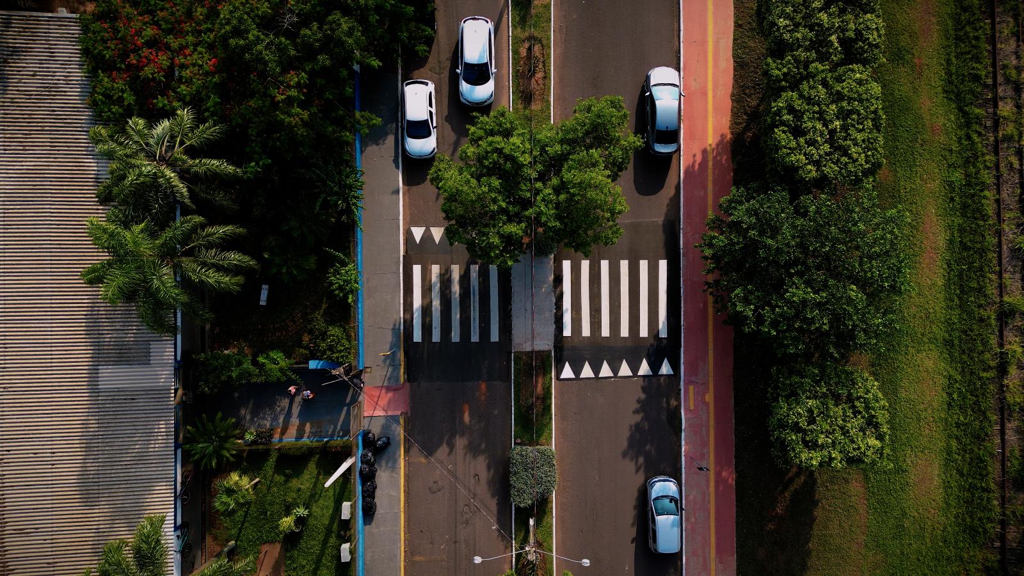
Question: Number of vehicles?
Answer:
4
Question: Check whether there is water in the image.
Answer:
No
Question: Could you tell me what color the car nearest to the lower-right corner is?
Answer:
blue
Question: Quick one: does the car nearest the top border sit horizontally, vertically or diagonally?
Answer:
vertically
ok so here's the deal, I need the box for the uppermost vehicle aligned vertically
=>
[454,14,498,108]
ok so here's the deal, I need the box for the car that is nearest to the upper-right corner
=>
[644,68,686,156]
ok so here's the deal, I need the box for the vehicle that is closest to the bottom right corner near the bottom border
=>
[645,473,686,557]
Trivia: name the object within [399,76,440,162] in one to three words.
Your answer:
car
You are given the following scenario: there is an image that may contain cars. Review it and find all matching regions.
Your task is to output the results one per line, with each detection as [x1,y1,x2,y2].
[399,76,440,162]
[645,473,686,557]
[644,68,686,156]
[454,14,498,108]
